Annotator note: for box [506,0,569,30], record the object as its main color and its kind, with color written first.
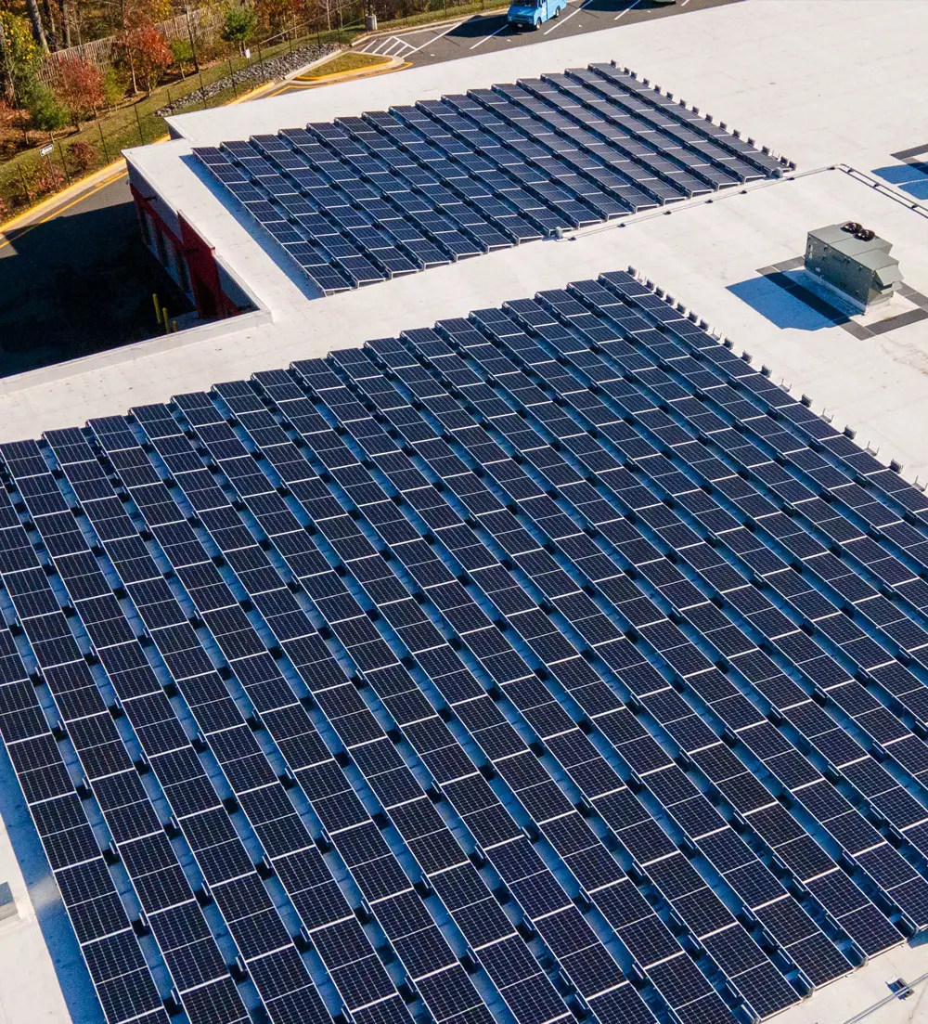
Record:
blue van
